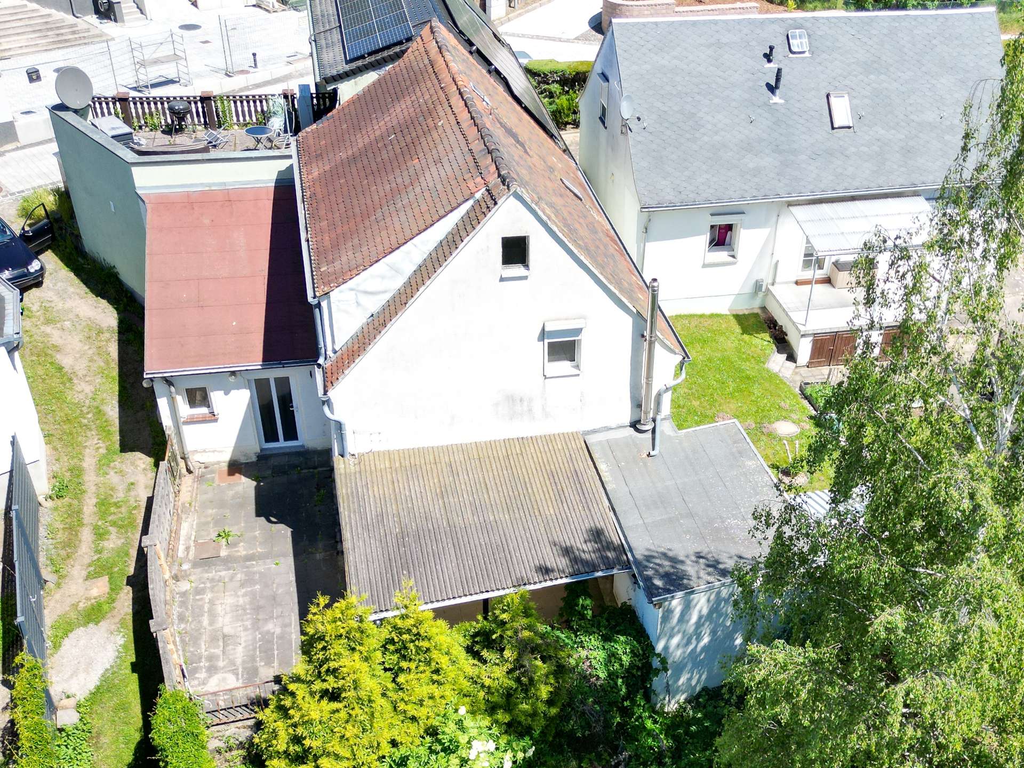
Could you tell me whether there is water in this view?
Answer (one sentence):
No, no water is visible.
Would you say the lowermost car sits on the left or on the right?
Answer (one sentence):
The lowermost car sits on the left side.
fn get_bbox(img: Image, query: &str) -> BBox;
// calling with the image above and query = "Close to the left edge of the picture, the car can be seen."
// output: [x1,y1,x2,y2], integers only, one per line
[0,204,52,287]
